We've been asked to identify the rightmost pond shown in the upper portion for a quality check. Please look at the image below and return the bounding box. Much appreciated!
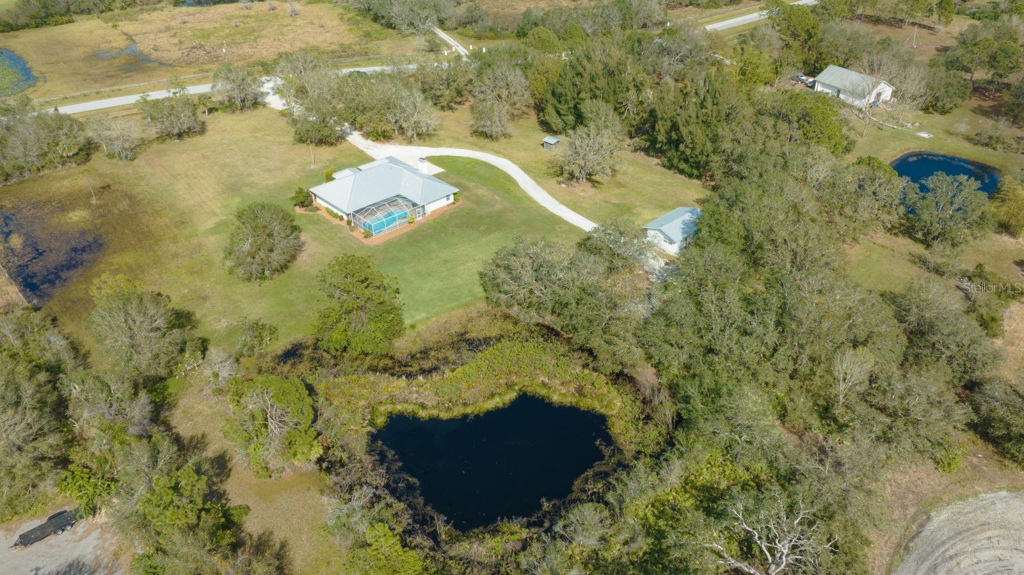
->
[890,151,1002,214]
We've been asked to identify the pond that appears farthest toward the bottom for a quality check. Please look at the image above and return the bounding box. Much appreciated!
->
[365,391,621,538]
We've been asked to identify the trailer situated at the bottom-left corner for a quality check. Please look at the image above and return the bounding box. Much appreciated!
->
[0,505,86,548]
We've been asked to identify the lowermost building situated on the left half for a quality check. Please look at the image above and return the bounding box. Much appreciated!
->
[307,155,459,222]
